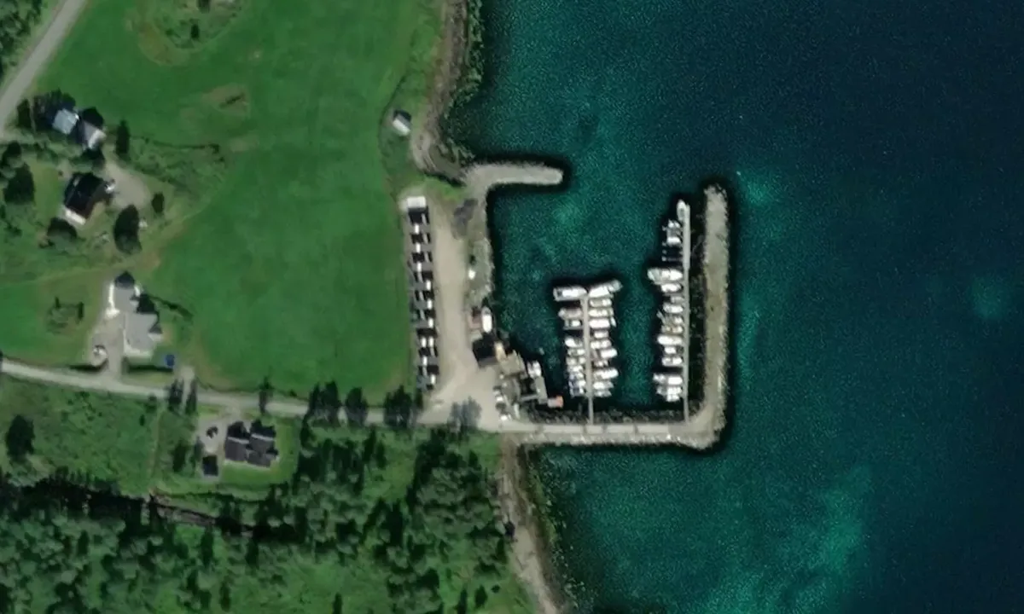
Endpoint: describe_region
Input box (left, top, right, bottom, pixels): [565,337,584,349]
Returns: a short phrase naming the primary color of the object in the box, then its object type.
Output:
white boat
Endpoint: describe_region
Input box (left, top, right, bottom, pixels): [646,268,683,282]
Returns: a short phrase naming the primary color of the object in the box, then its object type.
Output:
white boat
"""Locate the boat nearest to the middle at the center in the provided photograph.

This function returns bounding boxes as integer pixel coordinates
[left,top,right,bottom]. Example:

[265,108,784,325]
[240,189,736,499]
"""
[481,305,493,333]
